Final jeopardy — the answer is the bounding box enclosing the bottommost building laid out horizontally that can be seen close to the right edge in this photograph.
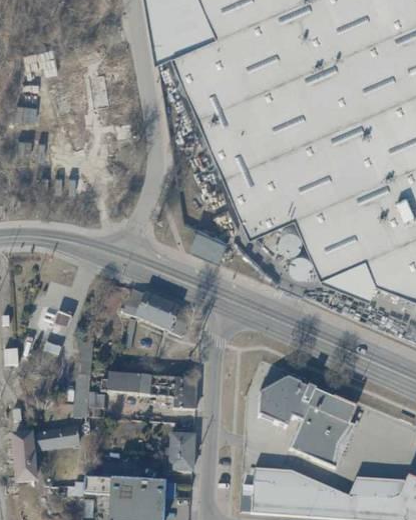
[252,468,416,520]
